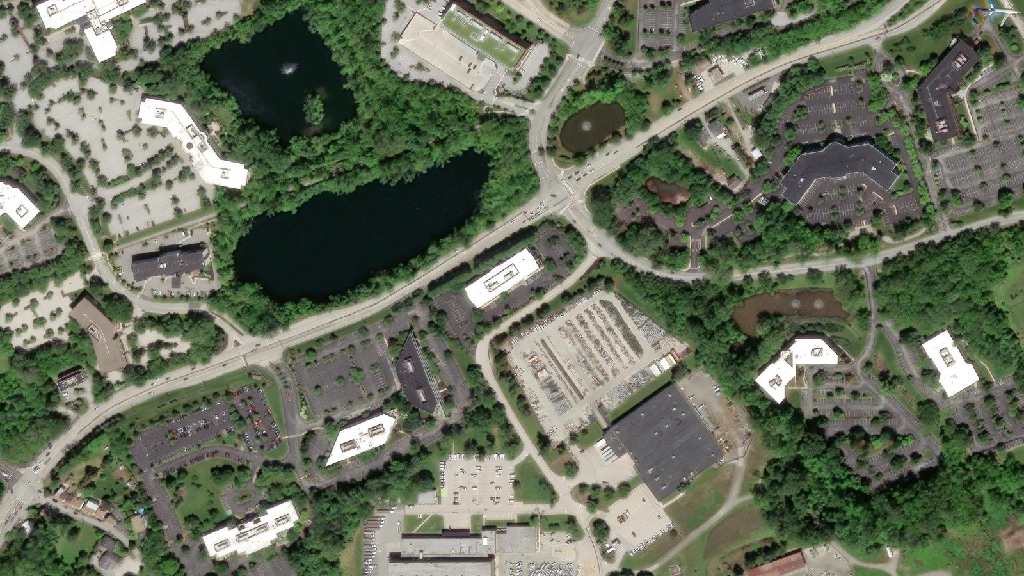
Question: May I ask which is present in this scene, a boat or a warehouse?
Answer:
warehouse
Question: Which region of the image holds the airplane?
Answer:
top right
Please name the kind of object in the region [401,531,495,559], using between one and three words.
building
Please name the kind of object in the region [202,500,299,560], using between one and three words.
building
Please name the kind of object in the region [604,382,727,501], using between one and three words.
warehouse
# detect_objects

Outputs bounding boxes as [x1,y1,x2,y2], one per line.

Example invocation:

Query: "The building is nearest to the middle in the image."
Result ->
[465,249,539,308]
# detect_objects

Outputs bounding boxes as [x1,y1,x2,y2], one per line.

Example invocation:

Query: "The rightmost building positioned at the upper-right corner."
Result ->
[918,38,981,142]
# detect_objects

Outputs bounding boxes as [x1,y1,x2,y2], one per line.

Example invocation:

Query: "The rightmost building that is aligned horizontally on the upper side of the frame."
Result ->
[781,142,900,205]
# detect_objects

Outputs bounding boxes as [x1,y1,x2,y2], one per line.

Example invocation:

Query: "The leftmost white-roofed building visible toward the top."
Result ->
[0,182,40,228]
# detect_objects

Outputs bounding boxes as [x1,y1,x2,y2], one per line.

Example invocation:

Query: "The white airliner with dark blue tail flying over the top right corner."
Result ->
[990,0,1021,27]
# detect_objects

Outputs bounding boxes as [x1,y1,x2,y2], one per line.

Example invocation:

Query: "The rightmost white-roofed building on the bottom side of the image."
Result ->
[924,330,980,398]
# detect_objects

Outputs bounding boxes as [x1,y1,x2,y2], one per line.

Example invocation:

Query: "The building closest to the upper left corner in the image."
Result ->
[35,0,147,63]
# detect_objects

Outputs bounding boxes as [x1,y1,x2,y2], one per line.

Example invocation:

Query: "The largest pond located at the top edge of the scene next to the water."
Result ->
[200,12,356,140]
